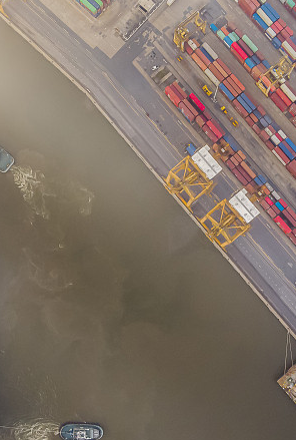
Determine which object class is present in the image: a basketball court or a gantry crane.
gantry crane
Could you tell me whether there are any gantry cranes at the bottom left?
No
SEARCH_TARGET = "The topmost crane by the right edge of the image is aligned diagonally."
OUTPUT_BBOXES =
[253,59,296,102]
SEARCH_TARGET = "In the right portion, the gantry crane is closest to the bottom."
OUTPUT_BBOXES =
[198,184,269,249]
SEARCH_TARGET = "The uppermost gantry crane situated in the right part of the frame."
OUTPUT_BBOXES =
[170,12,208,53]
